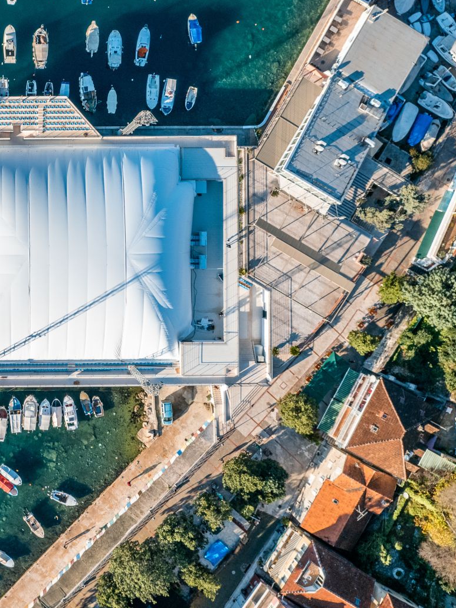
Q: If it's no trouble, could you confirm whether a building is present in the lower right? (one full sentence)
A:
Yes, the scene does show a building in the lower right.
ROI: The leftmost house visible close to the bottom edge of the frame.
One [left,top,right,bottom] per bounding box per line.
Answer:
[232,574,283,608]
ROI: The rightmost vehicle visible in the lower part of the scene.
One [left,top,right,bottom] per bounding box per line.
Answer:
[162,401,175,426]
